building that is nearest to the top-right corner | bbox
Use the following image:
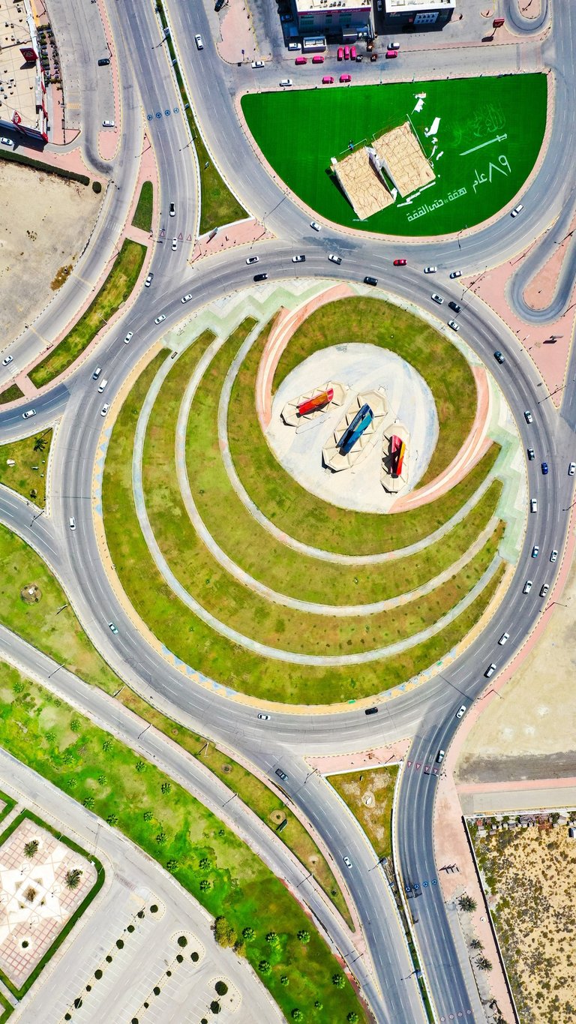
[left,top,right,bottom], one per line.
[381,0,455,28]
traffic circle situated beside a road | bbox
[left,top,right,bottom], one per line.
[49,234,572,758]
